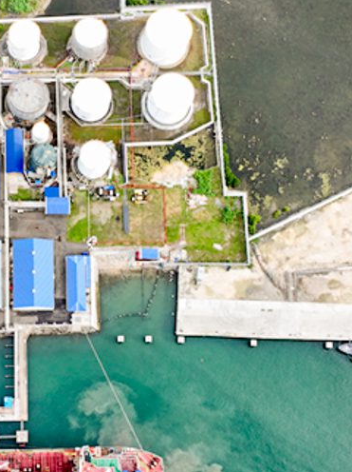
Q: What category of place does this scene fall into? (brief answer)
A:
industrial area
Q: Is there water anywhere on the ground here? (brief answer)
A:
Yes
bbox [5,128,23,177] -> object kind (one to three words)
building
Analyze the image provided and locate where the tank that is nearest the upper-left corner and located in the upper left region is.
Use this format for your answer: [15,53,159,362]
[0,21,48,69]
